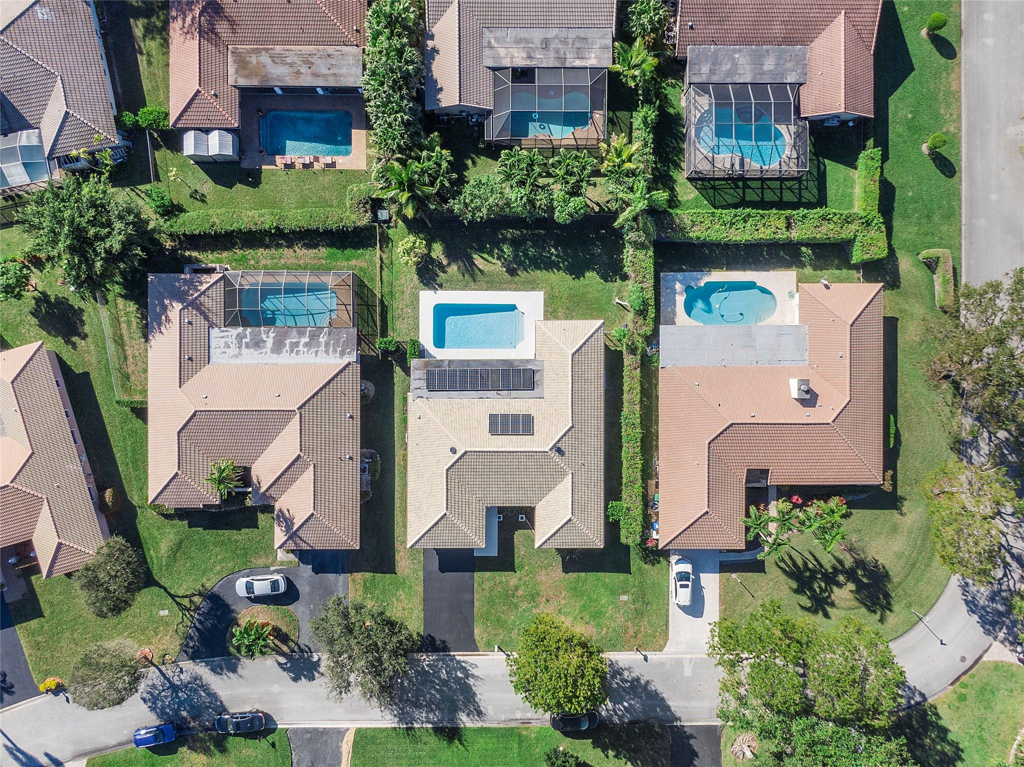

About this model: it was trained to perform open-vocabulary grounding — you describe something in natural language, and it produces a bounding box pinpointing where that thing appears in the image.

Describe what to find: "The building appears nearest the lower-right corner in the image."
[658,282,886,550]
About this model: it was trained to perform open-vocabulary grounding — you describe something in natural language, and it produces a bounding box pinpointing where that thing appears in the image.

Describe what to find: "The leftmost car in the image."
[126,724,178,755]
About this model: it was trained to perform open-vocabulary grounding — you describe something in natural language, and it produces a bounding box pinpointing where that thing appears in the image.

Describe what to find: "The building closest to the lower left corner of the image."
[0,340,116,580]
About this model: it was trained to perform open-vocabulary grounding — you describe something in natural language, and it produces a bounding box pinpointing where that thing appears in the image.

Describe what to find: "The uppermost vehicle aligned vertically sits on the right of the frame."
[674,558,698,610]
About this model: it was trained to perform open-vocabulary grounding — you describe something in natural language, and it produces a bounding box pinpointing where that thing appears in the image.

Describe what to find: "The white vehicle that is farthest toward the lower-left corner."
[232,575,285,600]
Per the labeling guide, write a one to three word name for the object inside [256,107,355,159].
swimming pool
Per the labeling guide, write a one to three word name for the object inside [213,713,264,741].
car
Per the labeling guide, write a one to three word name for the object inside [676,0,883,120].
house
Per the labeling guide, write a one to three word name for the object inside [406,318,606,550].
house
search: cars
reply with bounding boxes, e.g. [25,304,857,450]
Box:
[549,712,600,740]
[232,575,285,600]
[674,558,698,610]
[213,713,264,741]
[126,724,178,755]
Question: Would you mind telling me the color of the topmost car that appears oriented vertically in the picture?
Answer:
white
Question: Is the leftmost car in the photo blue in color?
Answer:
Yes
